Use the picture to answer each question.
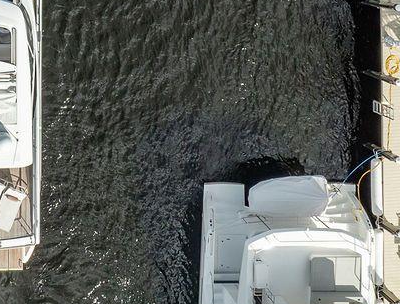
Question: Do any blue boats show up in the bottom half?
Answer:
No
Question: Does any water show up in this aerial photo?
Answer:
Yes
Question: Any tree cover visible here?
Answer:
No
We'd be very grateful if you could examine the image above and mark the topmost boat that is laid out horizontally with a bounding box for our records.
[246,173,342,216]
